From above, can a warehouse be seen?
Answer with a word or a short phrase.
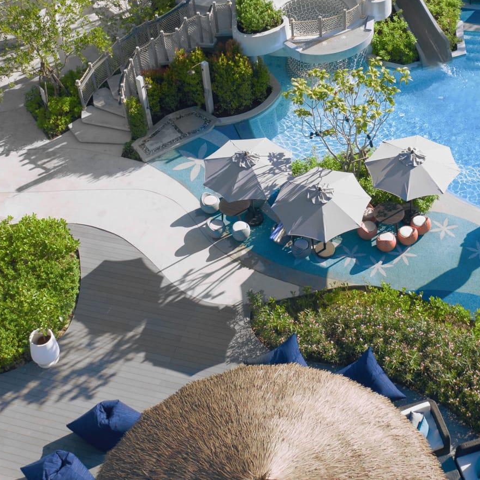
No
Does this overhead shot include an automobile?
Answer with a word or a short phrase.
No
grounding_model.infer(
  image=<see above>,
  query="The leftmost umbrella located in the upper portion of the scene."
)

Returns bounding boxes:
[197,135,301,229]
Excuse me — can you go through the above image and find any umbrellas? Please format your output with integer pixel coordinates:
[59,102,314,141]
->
[363,137,464,224]
[99,371,446,480]
[266,164,374,262]
[197,135,301,229]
